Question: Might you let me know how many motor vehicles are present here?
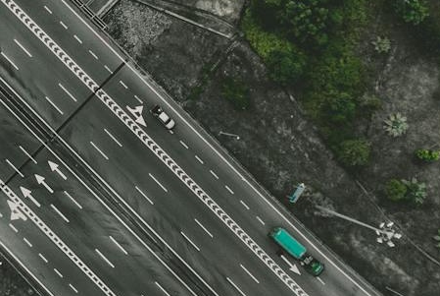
two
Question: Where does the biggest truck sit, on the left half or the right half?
right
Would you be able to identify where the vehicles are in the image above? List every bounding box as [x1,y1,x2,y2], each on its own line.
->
[150,105,177,130]
[268,225,325,280]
